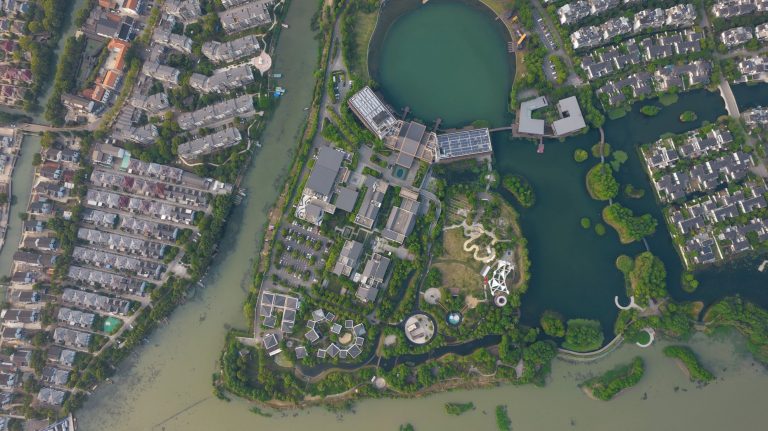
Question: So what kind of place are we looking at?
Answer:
residential area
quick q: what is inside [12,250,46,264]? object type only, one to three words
house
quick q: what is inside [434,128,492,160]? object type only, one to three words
building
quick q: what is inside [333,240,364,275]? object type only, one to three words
building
